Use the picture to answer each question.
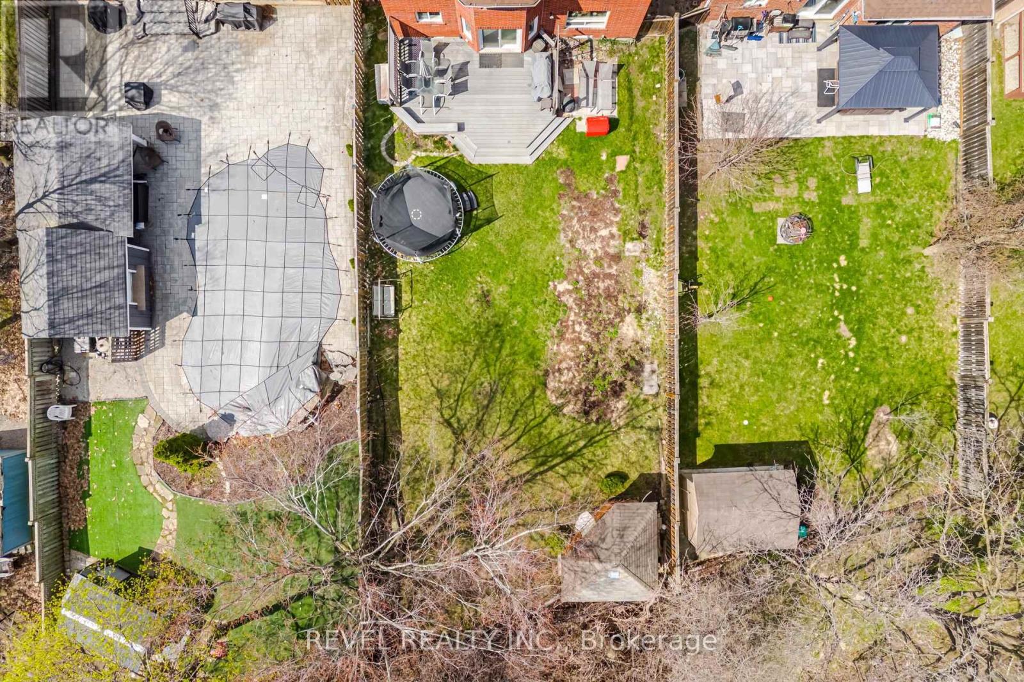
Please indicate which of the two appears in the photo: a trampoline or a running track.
trampoline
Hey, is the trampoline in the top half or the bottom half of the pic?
top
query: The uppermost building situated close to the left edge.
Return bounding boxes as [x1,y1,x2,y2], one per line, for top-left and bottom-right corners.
[13,114,152,338]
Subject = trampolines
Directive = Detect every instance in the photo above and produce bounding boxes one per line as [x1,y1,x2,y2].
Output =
[368,158,465,264]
